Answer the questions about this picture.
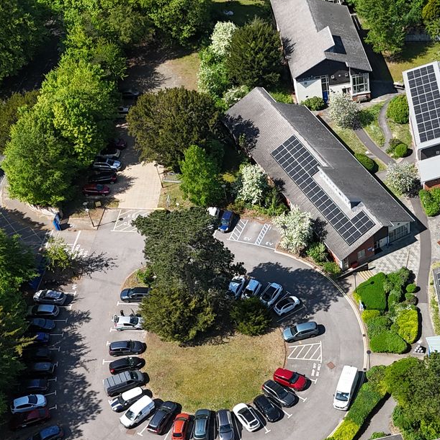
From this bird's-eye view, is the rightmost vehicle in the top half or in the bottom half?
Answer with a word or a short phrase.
bottom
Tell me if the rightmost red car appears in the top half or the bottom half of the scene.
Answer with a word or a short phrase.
bottom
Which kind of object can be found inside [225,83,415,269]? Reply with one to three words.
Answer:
building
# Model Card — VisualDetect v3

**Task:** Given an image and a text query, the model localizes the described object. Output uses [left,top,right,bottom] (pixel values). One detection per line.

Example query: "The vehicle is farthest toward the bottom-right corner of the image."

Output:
[334,365,358,411]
